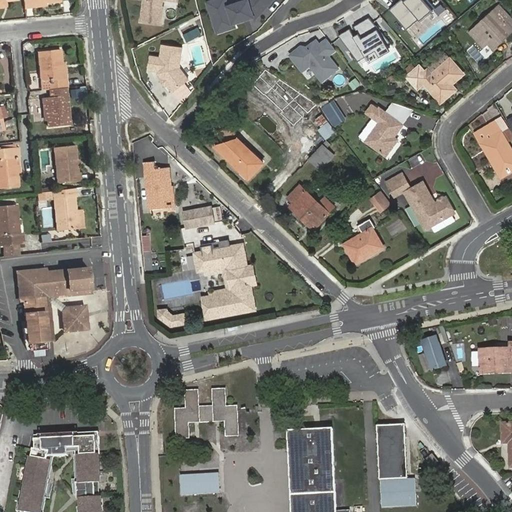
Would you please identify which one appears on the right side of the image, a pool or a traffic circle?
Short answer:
pool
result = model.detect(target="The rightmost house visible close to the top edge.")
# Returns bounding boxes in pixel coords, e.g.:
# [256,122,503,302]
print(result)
[469,2,512,52]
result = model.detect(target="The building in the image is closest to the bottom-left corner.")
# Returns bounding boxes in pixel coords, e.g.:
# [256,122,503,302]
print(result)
[18,456,49,512]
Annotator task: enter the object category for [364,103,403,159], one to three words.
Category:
house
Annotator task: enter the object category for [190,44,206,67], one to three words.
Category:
swimming pool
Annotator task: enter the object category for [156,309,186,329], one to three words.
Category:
building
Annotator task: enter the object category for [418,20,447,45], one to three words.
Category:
swimming pool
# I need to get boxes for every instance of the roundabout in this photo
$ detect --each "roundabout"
[100,336,162,399]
